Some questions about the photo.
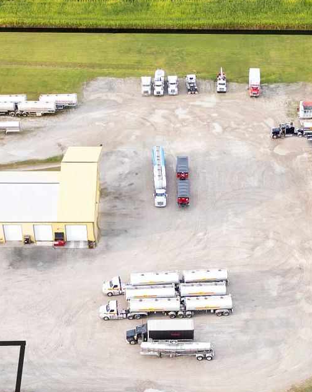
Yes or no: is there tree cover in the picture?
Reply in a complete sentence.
No, tree cover can't be seen anywhere here.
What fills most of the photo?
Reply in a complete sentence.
Most of the picture is covered by paved ground.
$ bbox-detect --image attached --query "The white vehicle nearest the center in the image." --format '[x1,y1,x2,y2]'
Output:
[154,186,167,207]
